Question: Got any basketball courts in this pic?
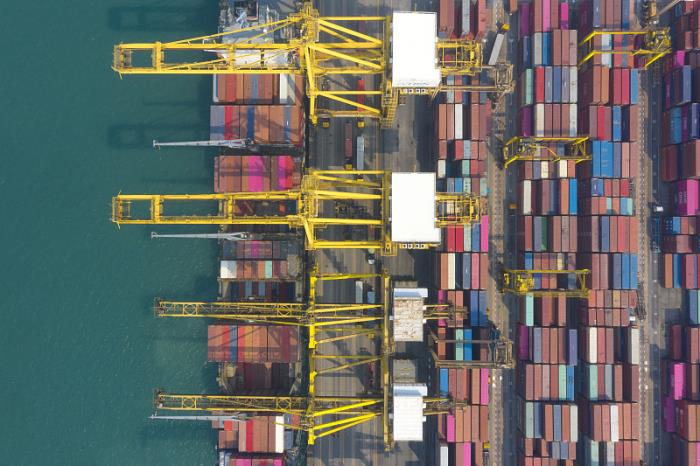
No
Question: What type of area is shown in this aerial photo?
port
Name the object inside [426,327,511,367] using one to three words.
container crane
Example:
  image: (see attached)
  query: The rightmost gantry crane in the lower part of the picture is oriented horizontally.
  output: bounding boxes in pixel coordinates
[500,263,594,297]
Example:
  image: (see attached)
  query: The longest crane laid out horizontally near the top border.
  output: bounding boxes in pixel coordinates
[112,2,489,132]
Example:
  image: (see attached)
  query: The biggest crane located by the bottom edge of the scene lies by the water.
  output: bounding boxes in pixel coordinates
[150,340,470,454]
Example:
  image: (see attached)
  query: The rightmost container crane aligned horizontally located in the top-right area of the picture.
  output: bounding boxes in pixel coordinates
[576,30,670,74]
